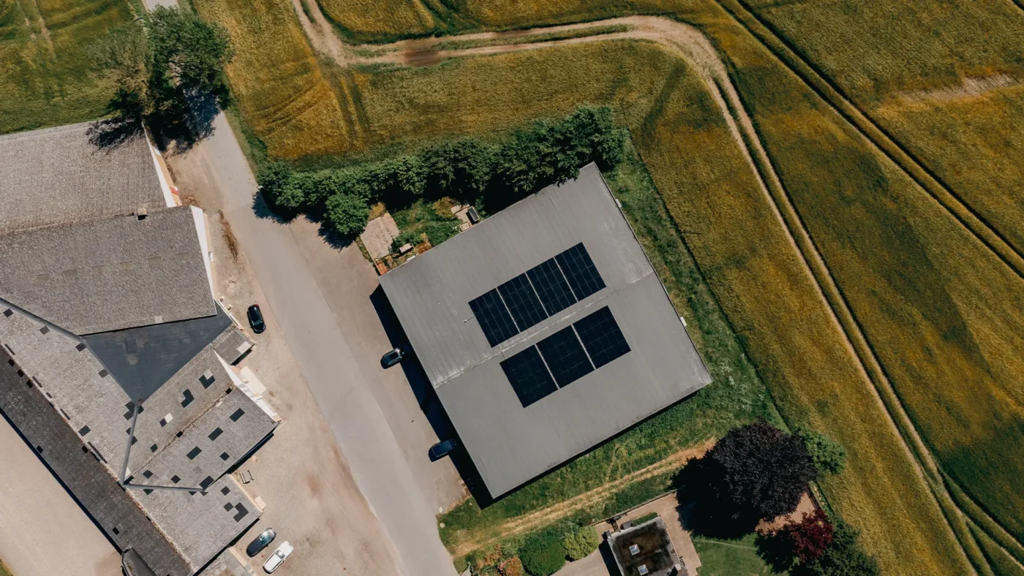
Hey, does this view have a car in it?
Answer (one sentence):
Yes, I can see a car in this picture.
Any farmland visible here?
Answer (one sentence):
Yes, there is farmland in the image.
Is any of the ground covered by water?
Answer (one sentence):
No, the picture contains no water.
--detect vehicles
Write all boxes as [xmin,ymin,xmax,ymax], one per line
[243,528,277,560]
[262,541,292,576]
[426,439,459,462]
[379,346,410,370]
[245,303,264,334]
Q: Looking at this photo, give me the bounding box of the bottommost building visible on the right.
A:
[607,513,688,576]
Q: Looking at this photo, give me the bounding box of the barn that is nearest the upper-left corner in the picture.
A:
[0,118,182,234]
